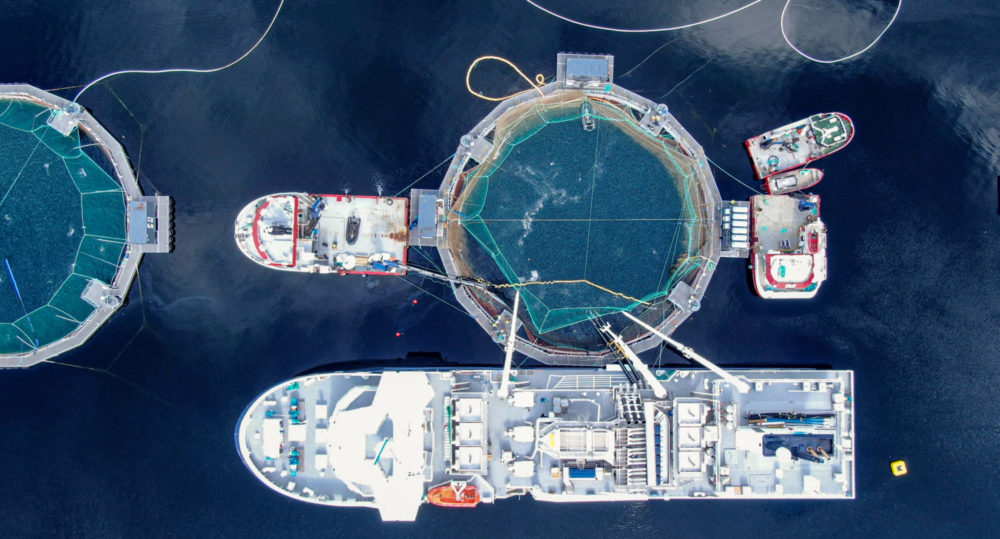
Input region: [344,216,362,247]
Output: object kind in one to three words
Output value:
boat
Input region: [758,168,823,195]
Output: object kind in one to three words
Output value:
boat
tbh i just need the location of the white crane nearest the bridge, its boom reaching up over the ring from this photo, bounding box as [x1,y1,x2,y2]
[495,288,519,401]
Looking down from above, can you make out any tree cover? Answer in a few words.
No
